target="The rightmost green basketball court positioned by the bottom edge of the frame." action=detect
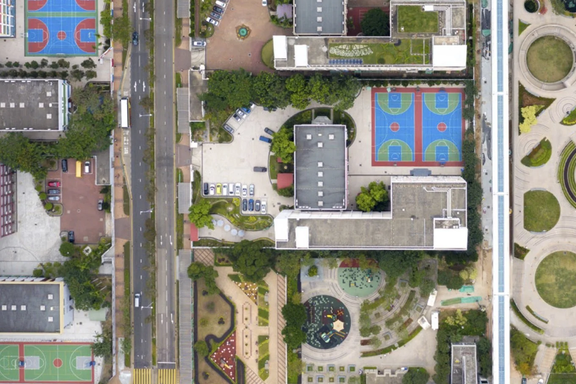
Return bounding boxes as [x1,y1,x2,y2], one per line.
[24,345,92,381]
